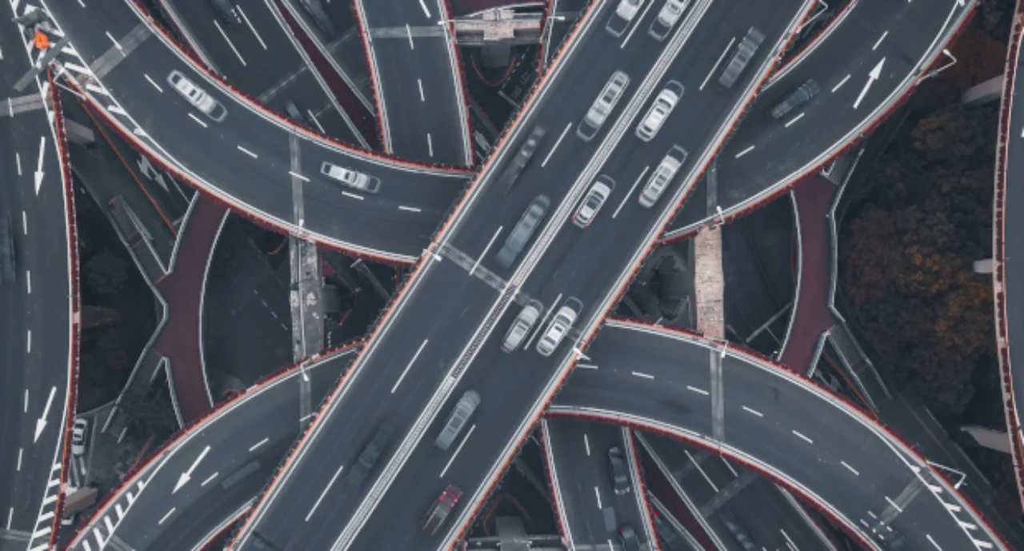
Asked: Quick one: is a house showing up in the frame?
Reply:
No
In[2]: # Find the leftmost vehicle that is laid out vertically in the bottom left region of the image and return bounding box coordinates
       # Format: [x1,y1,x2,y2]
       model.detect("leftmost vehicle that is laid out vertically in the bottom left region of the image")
[76,418,93,454]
